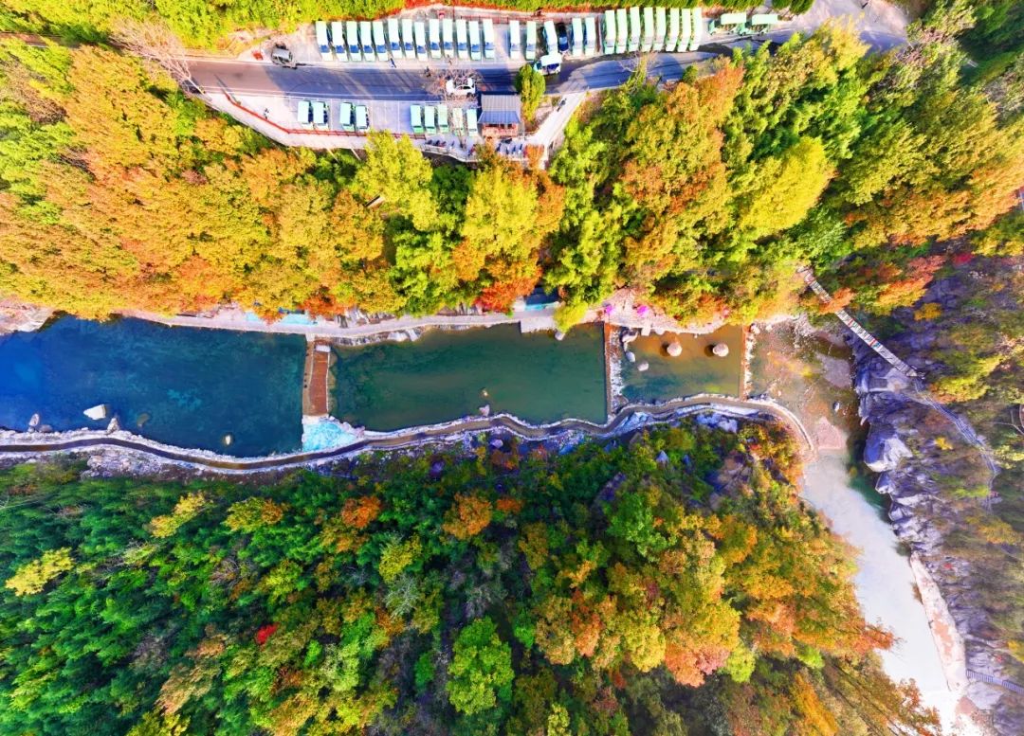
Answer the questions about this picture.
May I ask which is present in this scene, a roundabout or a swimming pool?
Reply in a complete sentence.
Of the two, only a swimming pool appears.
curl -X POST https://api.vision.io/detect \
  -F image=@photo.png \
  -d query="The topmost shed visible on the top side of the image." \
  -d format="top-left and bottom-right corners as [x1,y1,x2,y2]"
[479,95,523,138]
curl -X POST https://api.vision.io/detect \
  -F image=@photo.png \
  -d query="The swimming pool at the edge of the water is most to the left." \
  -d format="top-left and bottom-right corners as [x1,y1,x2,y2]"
[0,316,304,458]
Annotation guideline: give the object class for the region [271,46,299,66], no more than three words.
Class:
car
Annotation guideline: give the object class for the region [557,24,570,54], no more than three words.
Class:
vehicle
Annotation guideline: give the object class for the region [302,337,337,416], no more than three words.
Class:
dam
